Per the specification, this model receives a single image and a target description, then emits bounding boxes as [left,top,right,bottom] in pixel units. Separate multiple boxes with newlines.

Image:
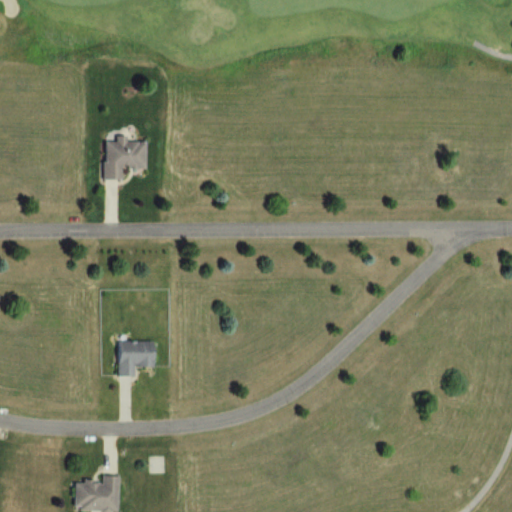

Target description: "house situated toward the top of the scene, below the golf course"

[104,136,147,178]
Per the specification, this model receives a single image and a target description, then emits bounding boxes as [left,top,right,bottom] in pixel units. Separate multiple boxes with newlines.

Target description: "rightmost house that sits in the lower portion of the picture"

[118,342,157,376]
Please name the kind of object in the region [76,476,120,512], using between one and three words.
house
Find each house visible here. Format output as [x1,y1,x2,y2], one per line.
[76,476,120,512]
[118,342,157,376]
[104,136,147,178]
